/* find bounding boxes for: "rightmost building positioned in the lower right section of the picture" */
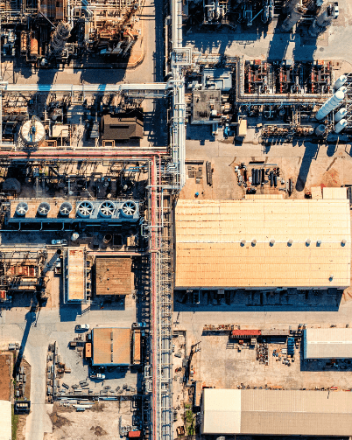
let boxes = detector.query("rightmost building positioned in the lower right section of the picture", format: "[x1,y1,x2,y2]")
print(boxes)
[301,328,352,363]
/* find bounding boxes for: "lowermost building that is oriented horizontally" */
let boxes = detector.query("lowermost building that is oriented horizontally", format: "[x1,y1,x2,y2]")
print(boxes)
[198,388,352,438]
